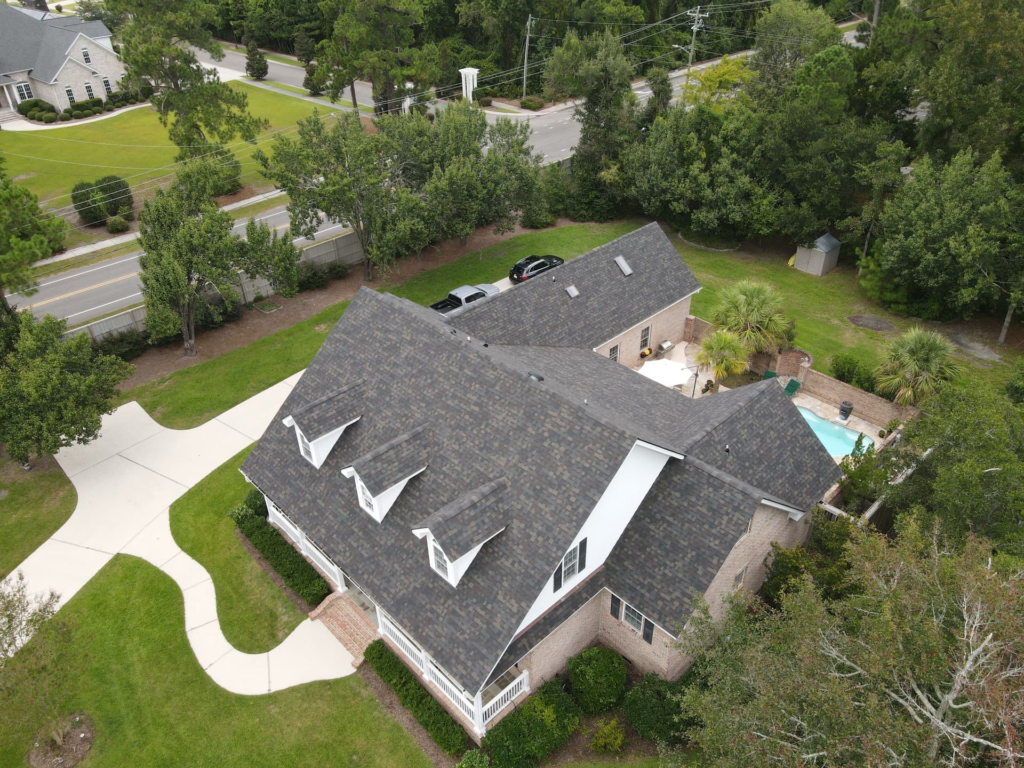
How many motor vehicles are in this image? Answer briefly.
two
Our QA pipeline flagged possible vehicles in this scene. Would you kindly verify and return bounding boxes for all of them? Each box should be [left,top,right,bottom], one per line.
[509,255,570,287]
[428,284,506,320]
